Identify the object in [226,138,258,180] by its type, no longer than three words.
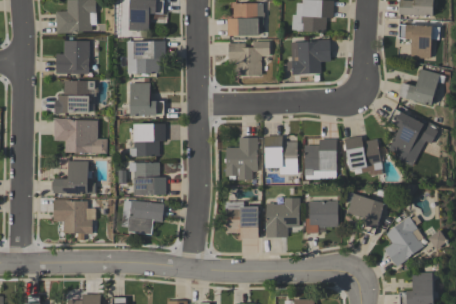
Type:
house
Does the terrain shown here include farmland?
No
